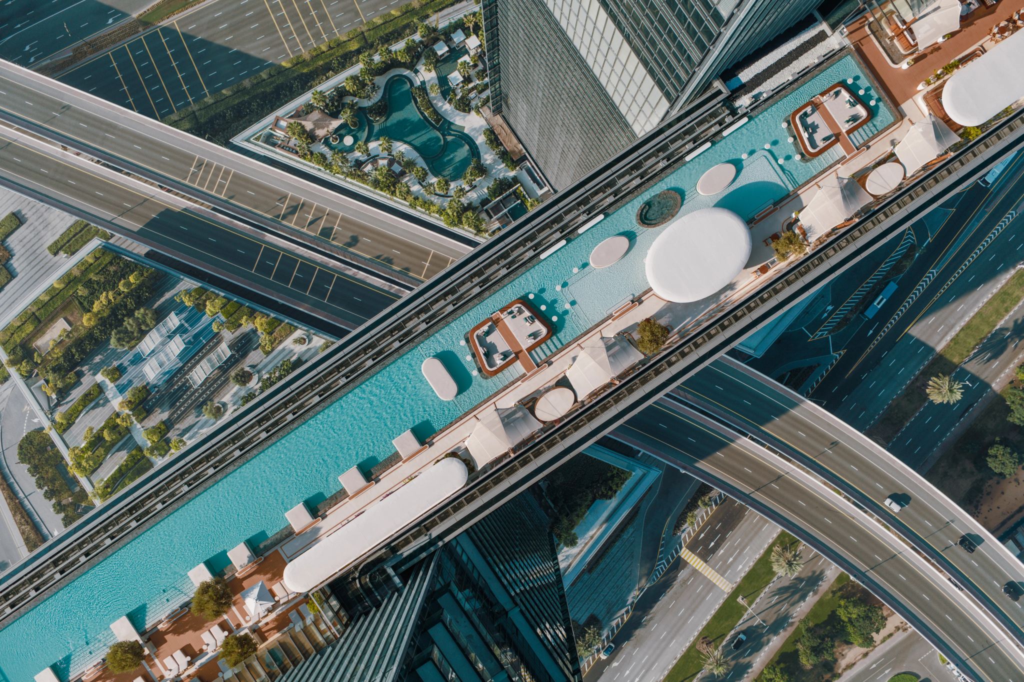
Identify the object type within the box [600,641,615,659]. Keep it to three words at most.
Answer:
car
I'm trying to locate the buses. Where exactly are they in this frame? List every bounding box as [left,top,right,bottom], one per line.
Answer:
[860,281,898,321]
[977,151,1020,188]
